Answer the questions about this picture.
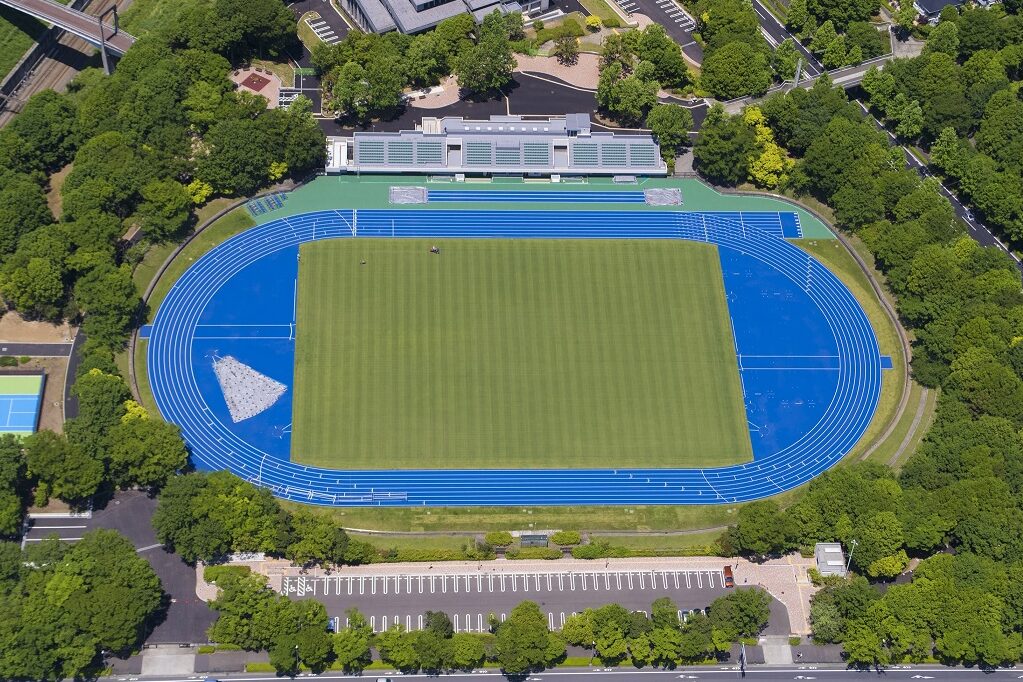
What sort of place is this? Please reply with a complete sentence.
The area seen from above is a sports ground.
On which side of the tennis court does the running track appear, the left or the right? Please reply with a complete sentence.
The running track can be seen on the right of the tennis court.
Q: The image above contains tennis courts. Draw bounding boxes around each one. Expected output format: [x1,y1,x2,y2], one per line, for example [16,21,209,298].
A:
[0,374,42,438]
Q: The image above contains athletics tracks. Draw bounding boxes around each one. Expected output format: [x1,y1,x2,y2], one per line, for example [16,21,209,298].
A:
[138,172,890,505]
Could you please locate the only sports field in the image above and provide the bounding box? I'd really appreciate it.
[291,239,753,469]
